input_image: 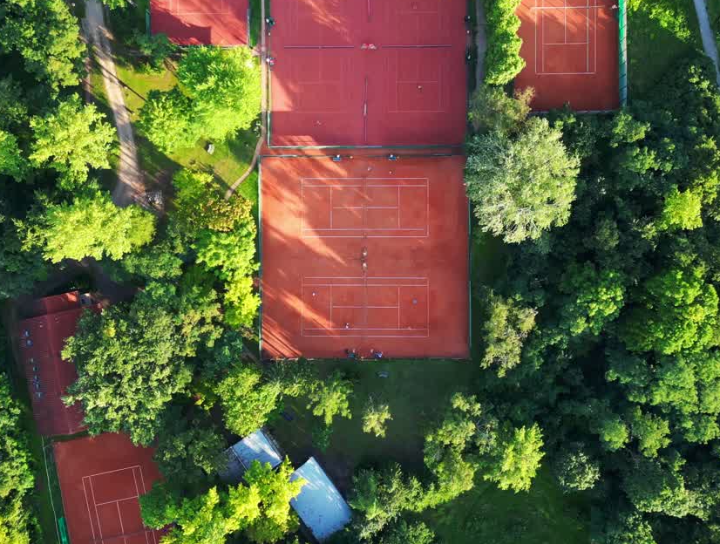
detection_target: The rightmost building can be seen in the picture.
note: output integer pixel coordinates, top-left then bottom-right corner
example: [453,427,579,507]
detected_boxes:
[292,456,354,539]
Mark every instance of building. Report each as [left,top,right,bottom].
[292,456,354,539]
[23,286,111,433]
[231,428,283,474]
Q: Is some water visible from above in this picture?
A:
No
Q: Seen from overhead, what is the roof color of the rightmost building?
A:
blue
